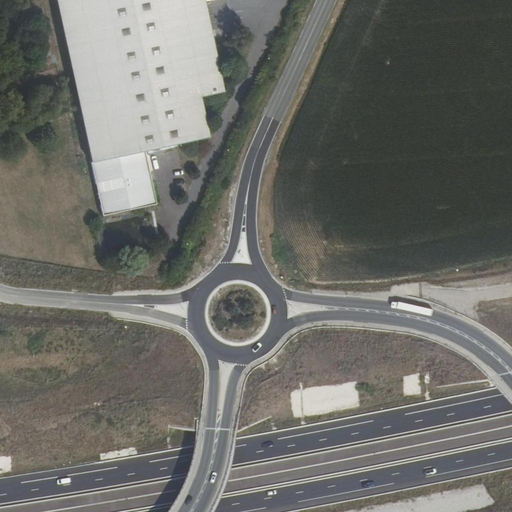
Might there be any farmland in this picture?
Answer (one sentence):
Yes, farmland shows up in the scene.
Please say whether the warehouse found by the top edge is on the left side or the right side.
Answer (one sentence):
You can find the warehouse found by the top edge on the left side of the picture.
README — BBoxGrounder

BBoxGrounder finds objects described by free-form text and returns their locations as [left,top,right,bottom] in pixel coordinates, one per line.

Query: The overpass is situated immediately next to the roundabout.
[168,408,237,512]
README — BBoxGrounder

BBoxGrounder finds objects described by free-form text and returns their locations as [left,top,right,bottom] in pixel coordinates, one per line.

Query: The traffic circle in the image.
[153,230,325,410]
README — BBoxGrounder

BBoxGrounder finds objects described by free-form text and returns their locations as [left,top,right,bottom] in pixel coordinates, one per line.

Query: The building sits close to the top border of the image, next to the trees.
[58,0,226,162]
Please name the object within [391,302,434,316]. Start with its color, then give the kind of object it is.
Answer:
white vehicle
